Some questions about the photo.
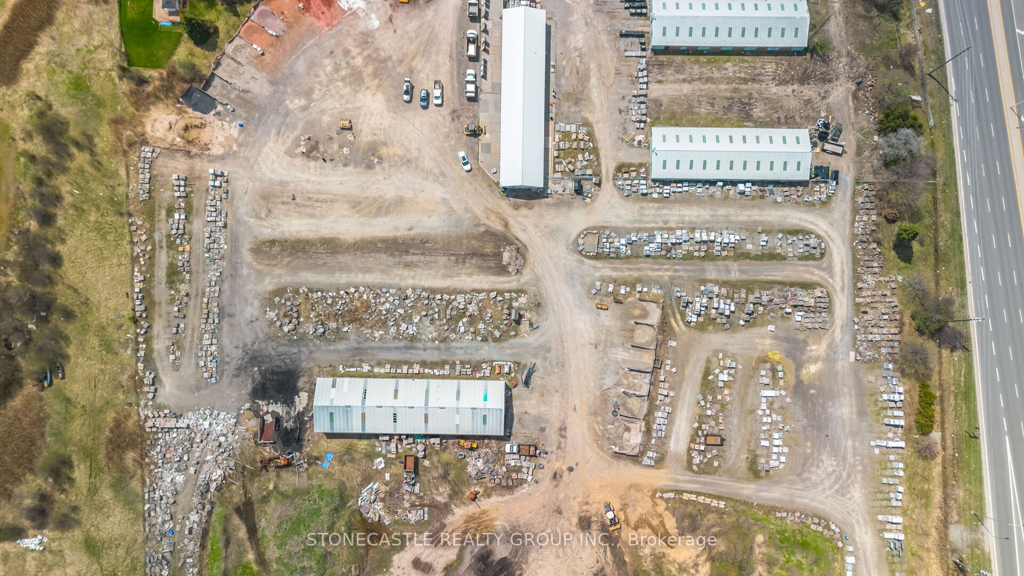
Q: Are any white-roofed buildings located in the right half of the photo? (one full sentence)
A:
Yes, I can see a white-roofed building in the right half of the photo.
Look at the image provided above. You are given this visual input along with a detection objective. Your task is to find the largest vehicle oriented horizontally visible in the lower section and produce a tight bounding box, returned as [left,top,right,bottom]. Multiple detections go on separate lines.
[505,443,537,456]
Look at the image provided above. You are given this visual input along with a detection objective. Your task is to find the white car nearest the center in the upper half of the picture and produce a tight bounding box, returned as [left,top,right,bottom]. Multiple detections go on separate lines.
[457,151,472,174]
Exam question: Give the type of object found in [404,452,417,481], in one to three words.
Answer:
vehicle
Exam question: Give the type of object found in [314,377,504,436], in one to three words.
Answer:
shed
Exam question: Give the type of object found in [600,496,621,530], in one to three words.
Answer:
work vehicle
